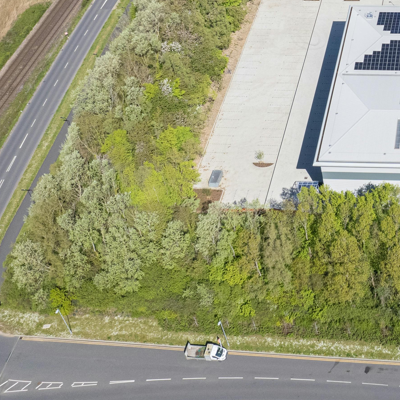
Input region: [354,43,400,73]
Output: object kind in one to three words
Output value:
solar array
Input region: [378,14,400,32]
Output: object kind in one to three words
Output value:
solar array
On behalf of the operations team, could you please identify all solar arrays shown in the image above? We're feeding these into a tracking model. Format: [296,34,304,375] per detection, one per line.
[378,14,400,32]
[354,43,400,73]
